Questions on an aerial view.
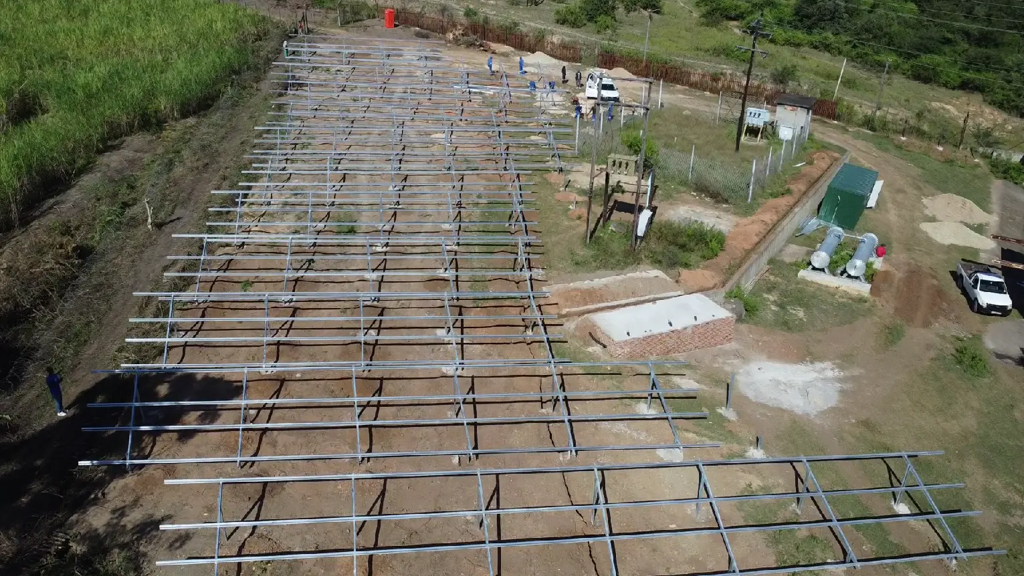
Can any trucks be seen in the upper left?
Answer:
No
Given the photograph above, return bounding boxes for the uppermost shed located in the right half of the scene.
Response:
[777,101,818,143]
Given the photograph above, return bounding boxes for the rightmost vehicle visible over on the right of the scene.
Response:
[958,267,1015,321]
